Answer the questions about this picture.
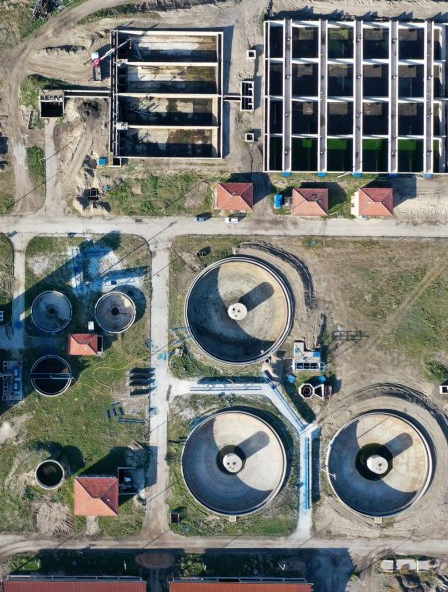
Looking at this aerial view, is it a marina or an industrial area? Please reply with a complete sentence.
This looks like an industrial area.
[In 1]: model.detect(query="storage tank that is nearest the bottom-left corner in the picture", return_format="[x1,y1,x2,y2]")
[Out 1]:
[34,459,64,490]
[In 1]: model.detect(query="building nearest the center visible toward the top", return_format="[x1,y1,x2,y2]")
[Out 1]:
[218,183,253,211]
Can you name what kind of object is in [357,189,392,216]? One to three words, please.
building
